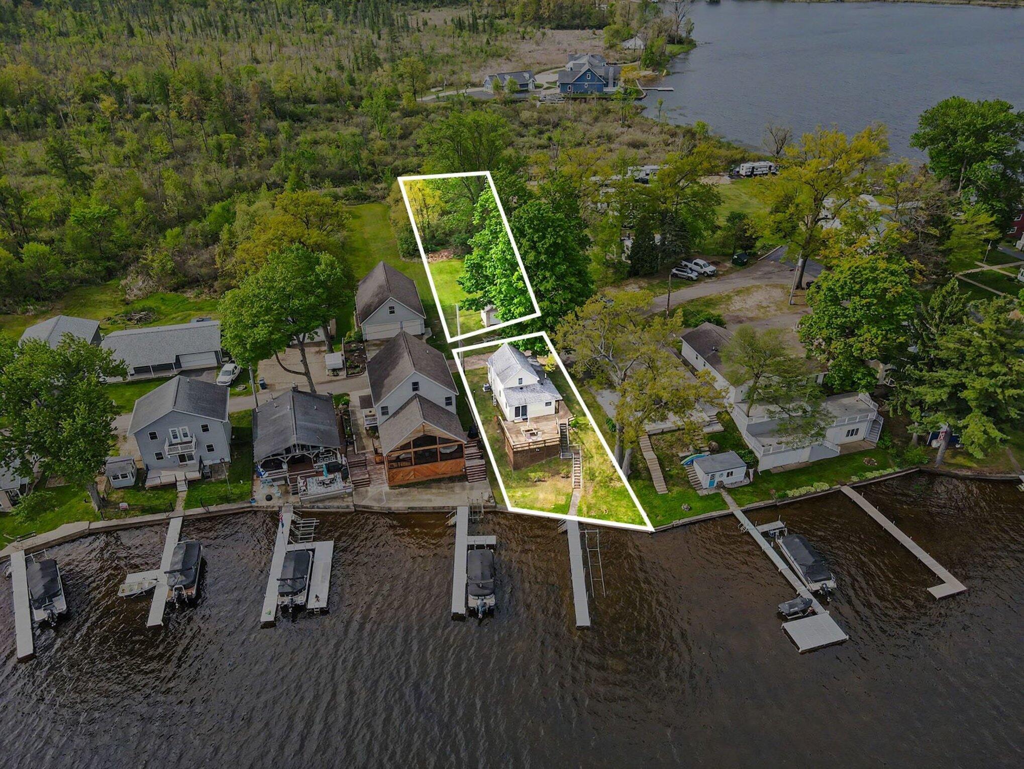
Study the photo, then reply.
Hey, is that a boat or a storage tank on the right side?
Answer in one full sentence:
What appears on the right side is a boat.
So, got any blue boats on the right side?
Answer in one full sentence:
No, no blue boat can be made out on the right side.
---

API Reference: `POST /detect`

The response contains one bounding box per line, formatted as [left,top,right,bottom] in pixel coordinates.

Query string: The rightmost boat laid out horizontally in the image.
[777,597,813,614]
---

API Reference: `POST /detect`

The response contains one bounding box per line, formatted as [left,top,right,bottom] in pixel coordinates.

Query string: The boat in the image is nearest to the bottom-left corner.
[27,551,67,628]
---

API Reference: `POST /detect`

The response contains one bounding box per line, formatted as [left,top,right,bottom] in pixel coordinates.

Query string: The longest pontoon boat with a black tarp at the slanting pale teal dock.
[779,535,836,601]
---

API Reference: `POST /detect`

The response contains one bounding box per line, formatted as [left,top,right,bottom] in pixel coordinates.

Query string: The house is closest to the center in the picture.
[487,342,563,420]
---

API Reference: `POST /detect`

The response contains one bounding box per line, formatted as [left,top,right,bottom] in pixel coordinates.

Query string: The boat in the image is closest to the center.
[465,547,495,619]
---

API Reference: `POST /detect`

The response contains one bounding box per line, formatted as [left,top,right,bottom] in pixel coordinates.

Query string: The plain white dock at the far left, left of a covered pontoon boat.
[9,550,36,661]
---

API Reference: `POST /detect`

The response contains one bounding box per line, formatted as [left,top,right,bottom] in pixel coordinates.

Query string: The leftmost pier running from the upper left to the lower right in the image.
[732,511,850,656]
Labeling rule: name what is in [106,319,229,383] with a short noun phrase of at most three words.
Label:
barn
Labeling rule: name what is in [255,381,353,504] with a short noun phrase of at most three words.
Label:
house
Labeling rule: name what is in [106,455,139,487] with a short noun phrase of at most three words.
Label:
shed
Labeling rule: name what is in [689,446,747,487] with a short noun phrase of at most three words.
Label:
building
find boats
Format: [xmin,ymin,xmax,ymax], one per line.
[465,547,495,619]
[277,549,313,616]
[779,535,836,601]
[166,541,205,609]
[27,551,67,628]
[777,597,813,614]
[118,577,156,595]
